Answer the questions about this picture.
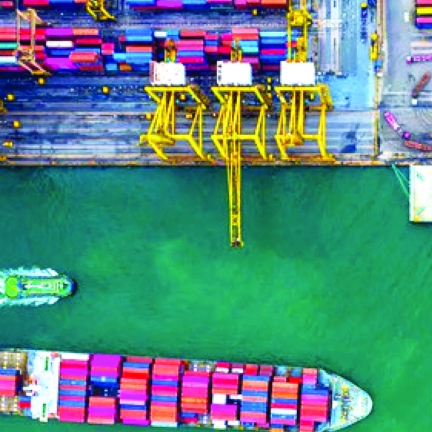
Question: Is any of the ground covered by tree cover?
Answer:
No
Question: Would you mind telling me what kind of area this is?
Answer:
port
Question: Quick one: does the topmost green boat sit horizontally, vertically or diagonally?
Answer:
horizontally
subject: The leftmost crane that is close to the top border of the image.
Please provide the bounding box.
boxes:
[16,4,51,74]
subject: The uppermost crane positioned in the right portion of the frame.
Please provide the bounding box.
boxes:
[288,0,306,62]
